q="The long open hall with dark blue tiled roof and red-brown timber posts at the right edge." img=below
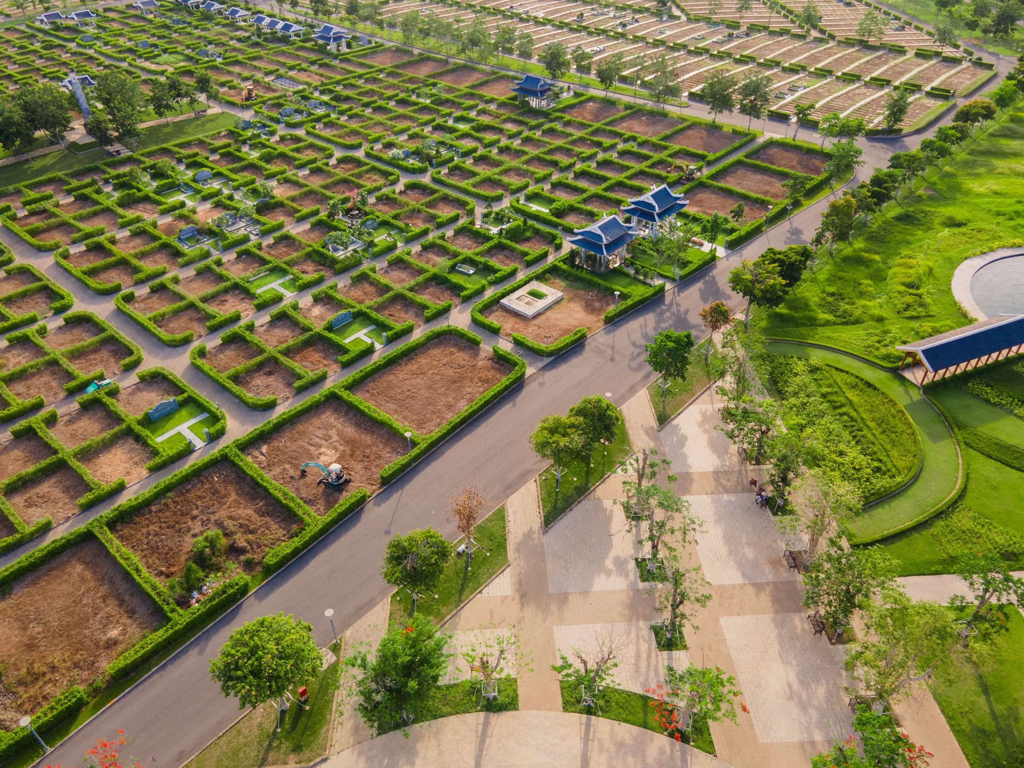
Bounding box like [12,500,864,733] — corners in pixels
[891,306,1024,386]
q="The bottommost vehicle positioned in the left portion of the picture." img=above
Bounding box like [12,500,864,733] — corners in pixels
[300,451,348,493]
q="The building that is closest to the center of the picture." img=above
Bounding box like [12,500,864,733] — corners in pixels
[562,208,644,276]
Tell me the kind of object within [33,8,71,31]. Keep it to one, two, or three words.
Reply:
building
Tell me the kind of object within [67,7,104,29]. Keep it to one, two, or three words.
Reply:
building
